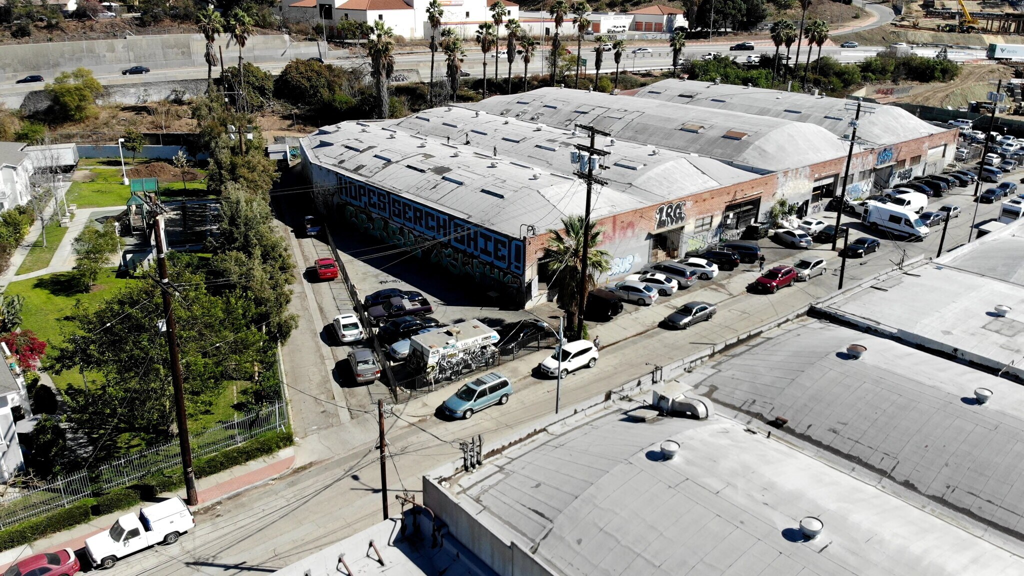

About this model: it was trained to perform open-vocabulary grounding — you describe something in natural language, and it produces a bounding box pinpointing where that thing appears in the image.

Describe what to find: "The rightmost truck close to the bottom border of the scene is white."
[79,489,192,568]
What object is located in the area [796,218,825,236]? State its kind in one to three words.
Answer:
car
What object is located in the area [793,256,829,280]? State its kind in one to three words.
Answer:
car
